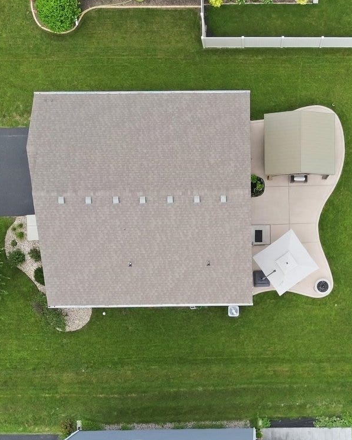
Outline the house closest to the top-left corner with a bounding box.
[24,90,251,308]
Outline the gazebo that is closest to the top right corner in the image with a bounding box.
[264,111,335,180]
